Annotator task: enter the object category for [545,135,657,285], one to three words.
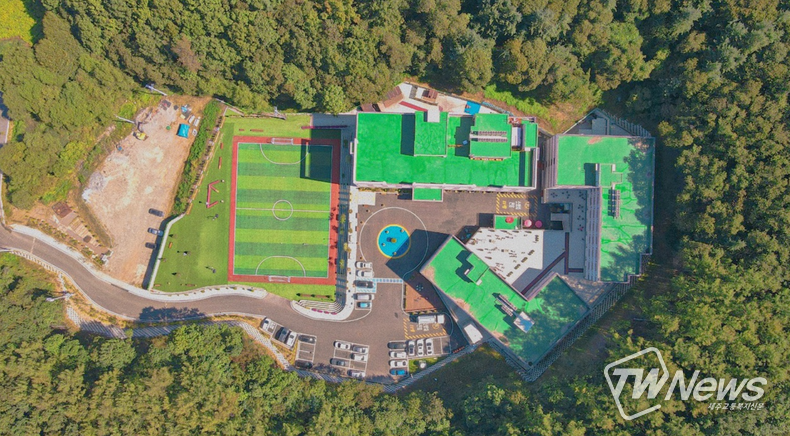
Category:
building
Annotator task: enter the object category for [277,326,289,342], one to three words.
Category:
vehicle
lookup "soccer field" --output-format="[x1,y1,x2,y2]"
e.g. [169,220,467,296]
[228,136,340,286]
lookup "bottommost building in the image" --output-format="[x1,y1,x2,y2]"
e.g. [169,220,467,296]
[417,235,592,367]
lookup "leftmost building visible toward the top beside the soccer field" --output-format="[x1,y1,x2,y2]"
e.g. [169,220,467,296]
[350,110,538,195]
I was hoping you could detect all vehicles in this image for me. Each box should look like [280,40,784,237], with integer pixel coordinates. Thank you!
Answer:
[333,358,349,367]
[299,335,316,343]
[285,331,297,347]
[391,368,407,377]
[147,227,164,236]
[417,314,444,323]
[391,351,407,358]
[426,339,433,355]
[145,242,158,249]
[262,316,274,333]
[359,302,371,308]
[408,340,415,356]
[358,270,373,278]
[353,346,369,354]
[391,360,407,367]
[149,208,164,217]
[352,353,368,361]
[277,326,289,342]
[390,342,407,350]
[357,262,373,269]
[336,341,352,350]
[349,369,365,377]
[417,340,424,356]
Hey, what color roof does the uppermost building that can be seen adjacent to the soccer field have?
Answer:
green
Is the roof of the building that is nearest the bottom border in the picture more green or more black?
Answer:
green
